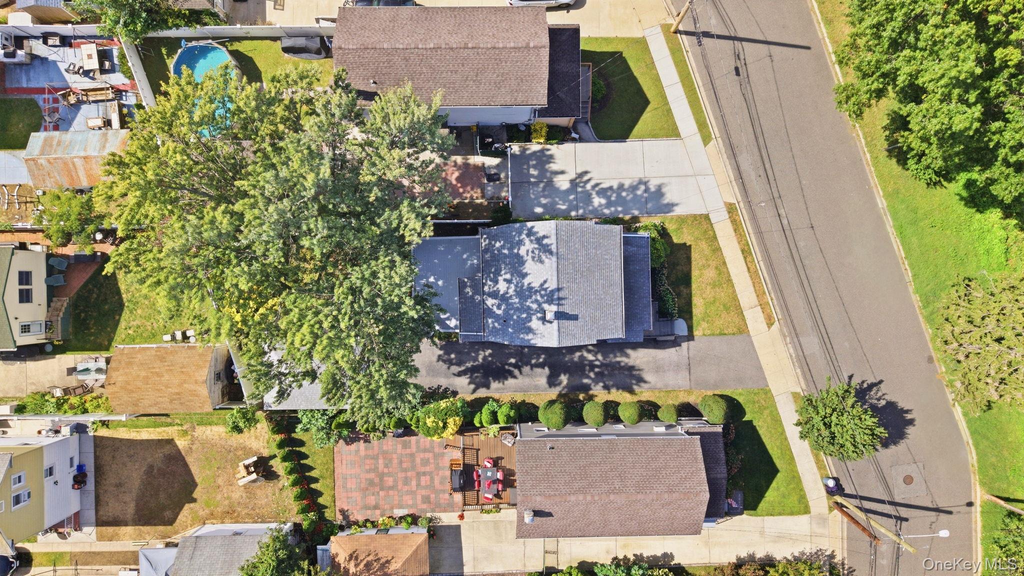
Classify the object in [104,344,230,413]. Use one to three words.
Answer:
building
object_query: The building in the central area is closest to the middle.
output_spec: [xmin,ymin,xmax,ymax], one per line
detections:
[412,222,688,344]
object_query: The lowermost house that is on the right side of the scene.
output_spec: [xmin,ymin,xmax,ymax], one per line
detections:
[516,421,743,536]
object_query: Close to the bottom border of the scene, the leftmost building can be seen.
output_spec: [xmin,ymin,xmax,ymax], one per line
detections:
[0,434,95,549]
